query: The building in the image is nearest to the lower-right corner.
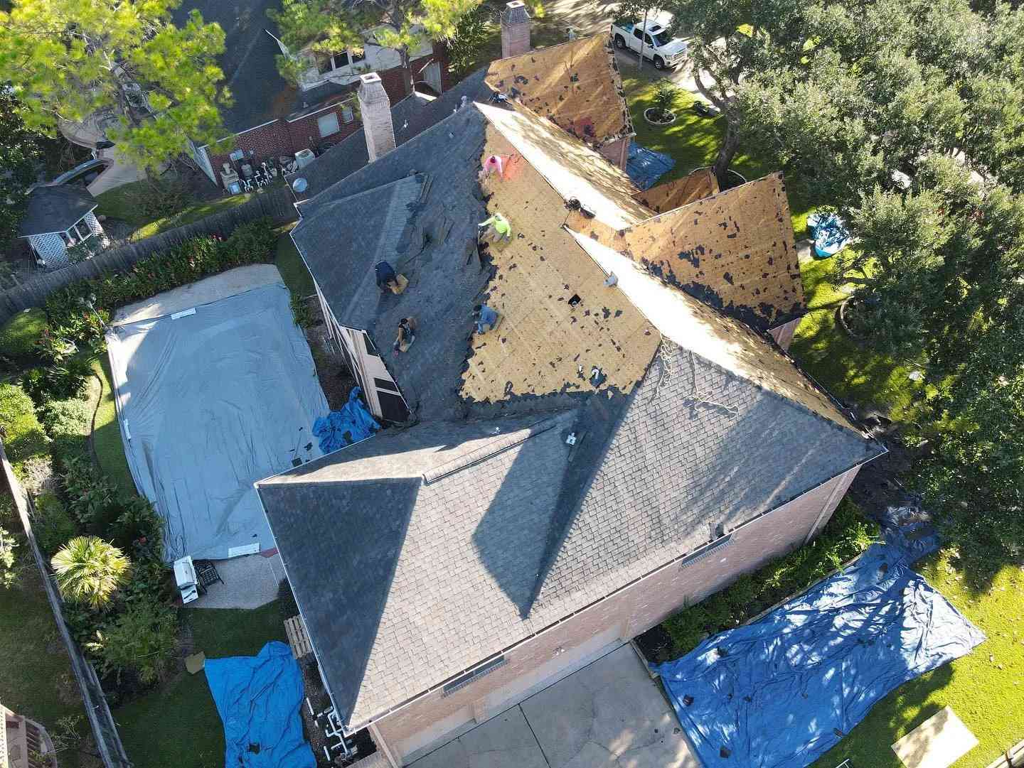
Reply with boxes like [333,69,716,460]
[247,6,894,768]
